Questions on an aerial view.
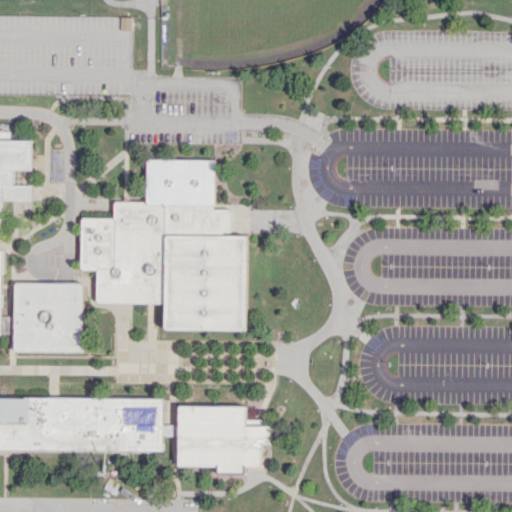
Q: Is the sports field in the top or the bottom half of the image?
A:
top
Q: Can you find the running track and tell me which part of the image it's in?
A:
top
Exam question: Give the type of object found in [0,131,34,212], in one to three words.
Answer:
building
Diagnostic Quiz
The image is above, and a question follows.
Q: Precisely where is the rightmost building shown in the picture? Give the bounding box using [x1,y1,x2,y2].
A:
[177,404,271,474]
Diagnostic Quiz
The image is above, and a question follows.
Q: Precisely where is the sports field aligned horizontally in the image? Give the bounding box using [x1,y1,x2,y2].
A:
[160,0,380,70]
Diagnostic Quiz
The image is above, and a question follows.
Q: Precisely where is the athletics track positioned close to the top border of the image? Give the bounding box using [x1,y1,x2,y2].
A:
[160,0,380,70]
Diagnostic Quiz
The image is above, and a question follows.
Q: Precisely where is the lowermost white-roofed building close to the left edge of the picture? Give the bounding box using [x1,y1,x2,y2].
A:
[0,397,165,453]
